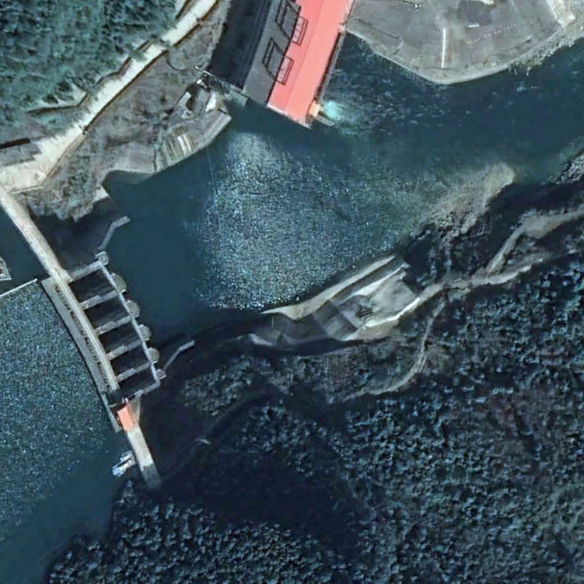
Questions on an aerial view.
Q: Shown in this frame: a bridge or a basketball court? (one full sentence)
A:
It is a bridge that can be seen here.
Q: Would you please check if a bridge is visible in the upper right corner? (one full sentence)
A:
No, in the upper right corner there is no bridge.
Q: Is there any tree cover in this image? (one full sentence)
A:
Yes, tree cover can be seen from above here.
